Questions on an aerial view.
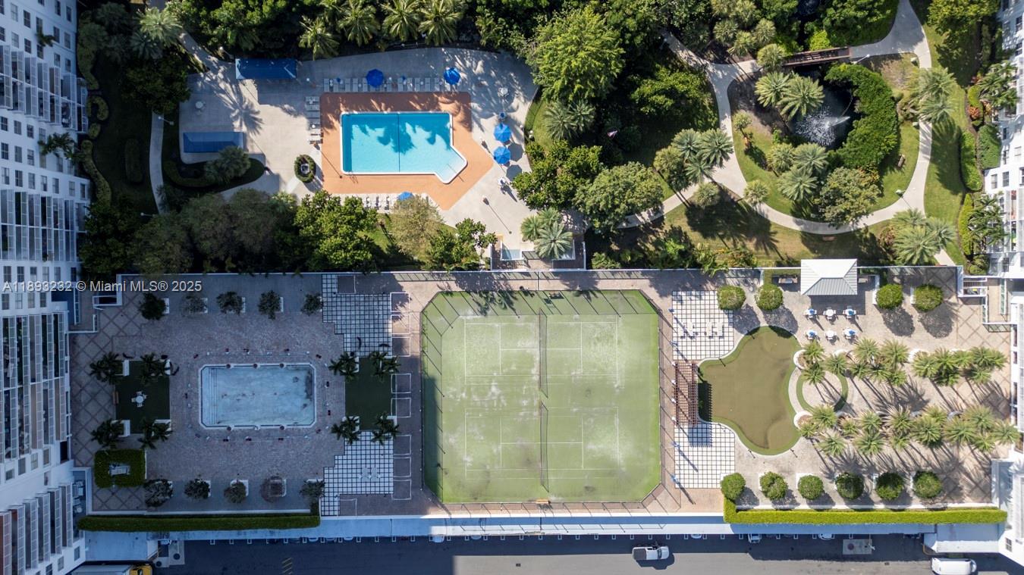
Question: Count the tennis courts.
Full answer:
Altogether the scene contains 2 tennis courts.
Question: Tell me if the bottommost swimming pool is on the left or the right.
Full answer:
It is on the left.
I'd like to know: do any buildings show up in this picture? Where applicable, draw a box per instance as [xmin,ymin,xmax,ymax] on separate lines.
[979,0,1024,554]
[795,259,858,295]
[0,0,102,575]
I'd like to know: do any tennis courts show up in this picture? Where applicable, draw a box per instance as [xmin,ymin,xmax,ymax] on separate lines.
[423,396,661,503]
[422,291,660,396]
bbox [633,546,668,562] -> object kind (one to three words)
vehicle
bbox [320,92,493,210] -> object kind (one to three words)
swimming pool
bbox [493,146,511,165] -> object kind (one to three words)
umbrella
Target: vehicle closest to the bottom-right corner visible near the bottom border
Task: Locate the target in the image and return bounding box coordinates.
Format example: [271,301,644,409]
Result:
[929,555,972,574]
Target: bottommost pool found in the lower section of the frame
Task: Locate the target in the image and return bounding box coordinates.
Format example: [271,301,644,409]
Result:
[199,363,316,429]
